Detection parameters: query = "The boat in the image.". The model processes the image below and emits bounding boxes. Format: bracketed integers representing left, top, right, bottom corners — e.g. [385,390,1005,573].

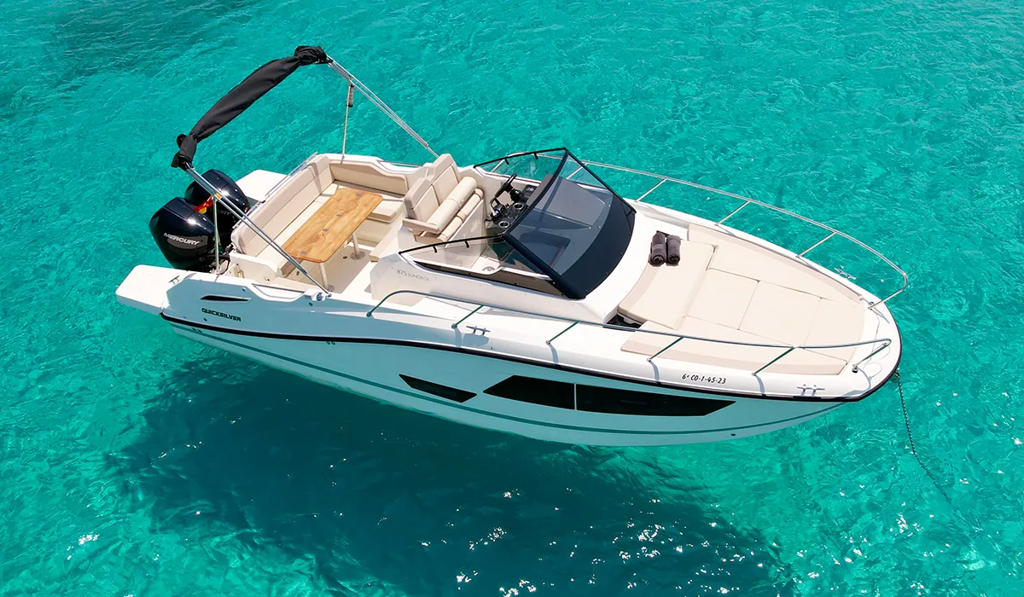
[119,39,909,445]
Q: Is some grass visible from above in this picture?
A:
No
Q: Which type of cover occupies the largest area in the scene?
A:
water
